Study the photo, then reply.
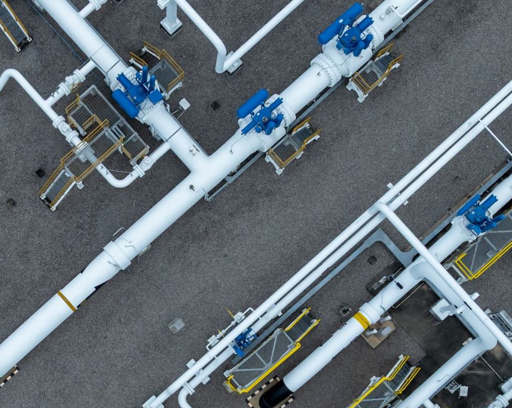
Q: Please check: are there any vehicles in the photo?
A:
No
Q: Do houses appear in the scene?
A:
No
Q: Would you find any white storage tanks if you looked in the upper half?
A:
No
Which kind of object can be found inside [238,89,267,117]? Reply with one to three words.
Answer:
storage tank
